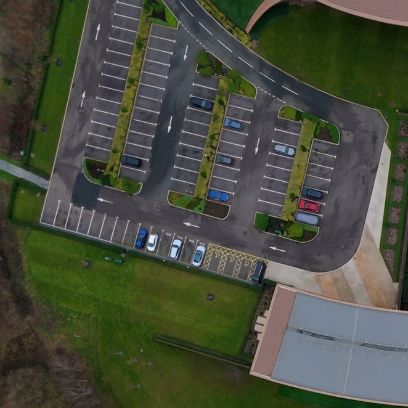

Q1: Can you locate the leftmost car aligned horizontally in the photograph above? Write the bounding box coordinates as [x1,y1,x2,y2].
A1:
[121,155,143,168]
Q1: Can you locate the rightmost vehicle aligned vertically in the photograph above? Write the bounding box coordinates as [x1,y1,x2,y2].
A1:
[253,260,266,283]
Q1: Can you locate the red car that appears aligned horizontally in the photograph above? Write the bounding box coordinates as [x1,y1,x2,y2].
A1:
[299,200,320,213]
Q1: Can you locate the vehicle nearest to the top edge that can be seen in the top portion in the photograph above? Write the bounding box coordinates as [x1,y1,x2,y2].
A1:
[191,97,213,110]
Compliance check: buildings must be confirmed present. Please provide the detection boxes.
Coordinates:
[250,284,408,406]
[314,0,408,27]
